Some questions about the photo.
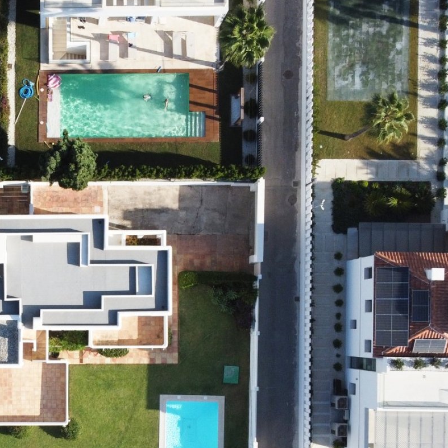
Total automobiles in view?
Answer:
0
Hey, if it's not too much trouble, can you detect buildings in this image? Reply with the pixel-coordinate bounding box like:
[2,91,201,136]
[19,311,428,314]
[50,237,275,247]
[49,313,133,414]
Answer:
[41,0,230,26]
[0,214,172,425]
[336,223,448,448]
